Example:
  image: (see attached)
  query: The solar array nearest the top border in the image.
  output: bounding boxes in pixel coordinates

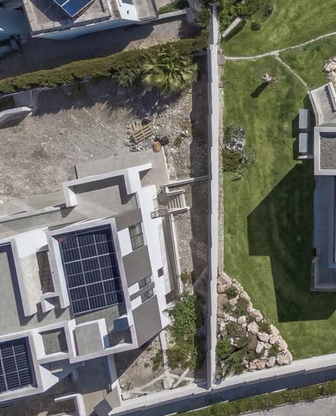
[59,229,126,316]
